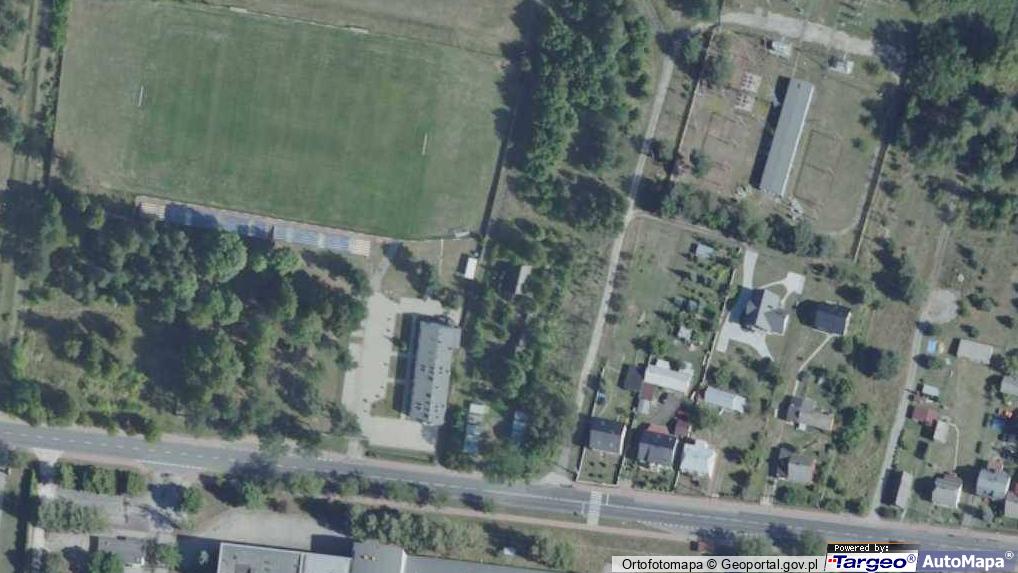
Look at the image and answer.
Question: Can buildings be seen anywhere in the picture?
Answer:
Yes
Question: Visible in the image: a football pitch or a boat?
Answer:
football pitch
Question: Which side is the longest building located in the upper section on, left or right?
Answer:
right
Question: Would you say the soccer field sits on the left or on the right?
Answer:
left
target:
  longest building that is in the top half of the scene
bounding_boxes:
[761,79,816,199]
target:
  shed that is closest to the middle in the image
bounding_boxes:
[506,264,532,296]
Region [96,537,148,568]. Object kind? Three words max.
building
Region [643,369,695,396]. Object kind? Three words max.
barn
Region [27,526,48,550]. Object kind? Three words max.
shed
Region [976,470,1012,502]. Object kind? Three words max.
house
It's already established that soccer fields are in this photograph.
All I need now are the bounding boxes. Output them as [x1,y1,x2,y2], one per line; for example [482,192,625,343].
[125,6,437,235]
